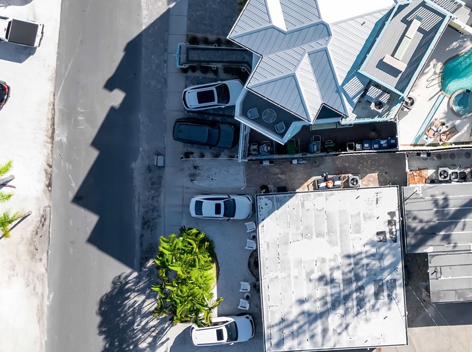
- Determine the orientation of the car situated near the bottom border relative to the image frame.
from side to side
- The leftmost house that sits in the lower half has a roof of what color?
white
